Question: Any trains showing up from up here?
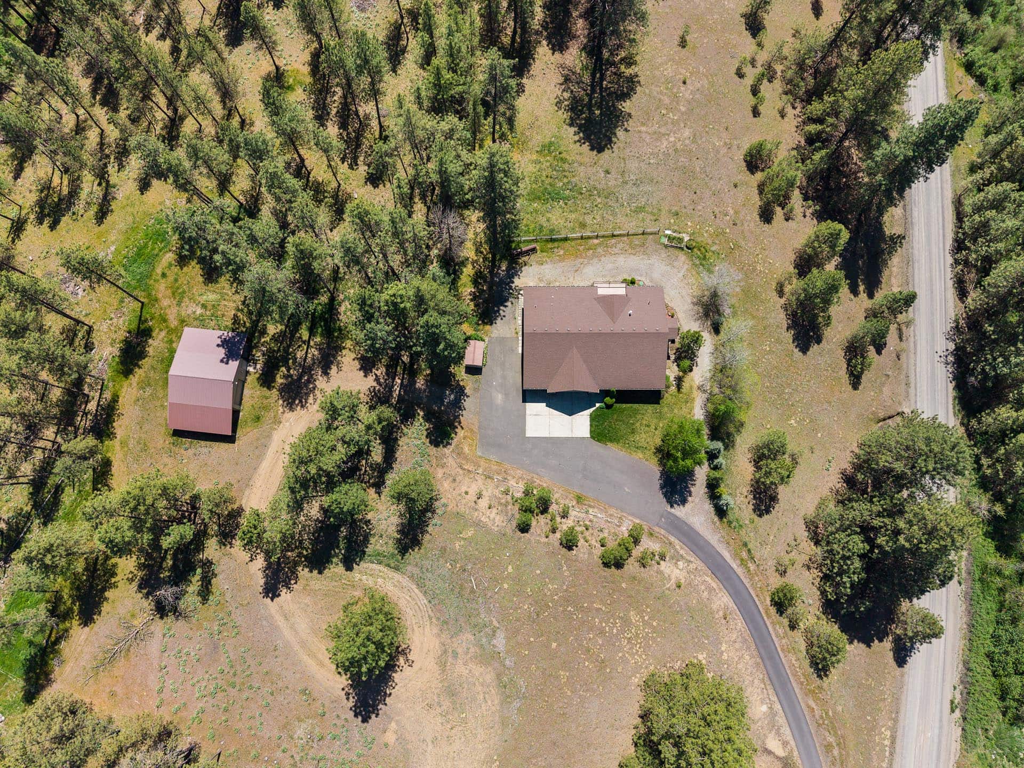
No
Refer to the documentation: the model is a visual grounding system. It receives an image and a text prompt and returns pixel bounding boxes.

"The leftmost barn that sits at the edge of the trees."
[167,330,252,434]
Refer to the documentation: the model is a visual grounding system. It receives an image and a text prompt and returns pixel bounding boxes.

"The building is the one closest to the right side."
[522,275,676,394]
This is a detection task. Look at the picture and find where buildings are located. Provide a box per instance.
[522,275,676,394]
[465,341,485,369]
[167,330,252,434]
